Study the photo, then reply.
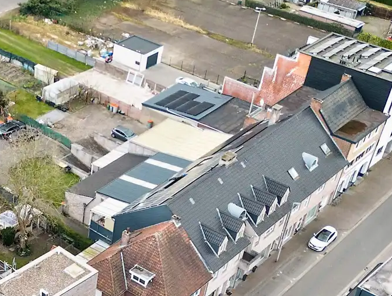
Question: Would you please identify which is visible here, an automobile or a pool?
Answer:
automobile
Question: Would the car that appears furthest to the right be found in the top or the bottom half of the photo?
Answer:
bottom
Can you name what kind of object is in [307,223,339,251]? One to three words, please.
car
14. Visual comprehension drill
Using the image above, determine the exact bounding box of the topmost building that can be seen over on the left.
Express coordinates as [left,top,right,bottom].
[112,35,163,71]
